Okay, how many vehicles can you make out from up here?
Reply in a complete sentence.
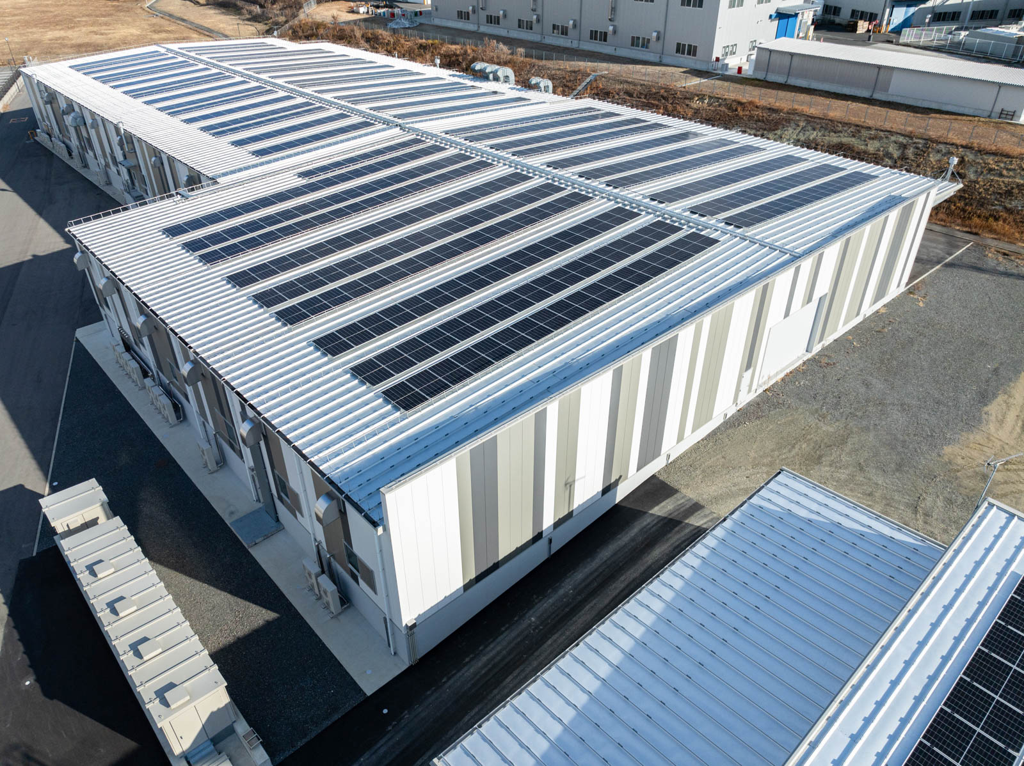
There are no vehicles in the image.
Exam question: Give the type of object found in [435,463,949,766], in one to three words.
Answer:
warehouse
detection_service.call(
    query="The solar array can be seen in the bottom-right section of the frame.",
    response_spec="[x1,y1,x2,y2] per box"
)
[904,577,1024,766]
